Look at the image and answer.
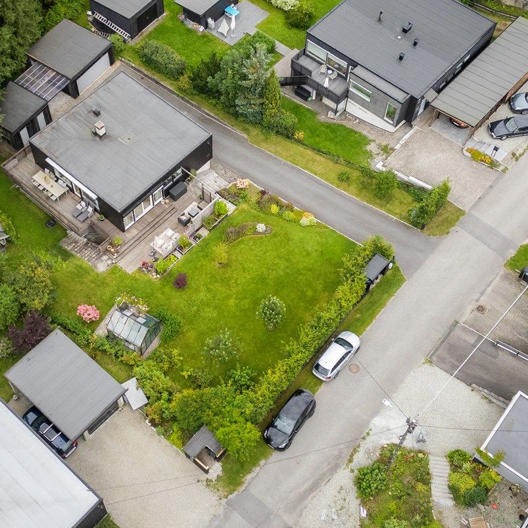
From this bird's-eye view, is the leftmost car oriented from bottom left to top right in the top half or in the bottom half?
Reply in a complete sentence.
You can find the leftmost car oriented from bottom left to top right in the bottom half.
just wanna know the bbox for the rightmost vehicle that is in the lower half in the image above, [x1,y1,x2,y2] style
[310,328,362,385]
